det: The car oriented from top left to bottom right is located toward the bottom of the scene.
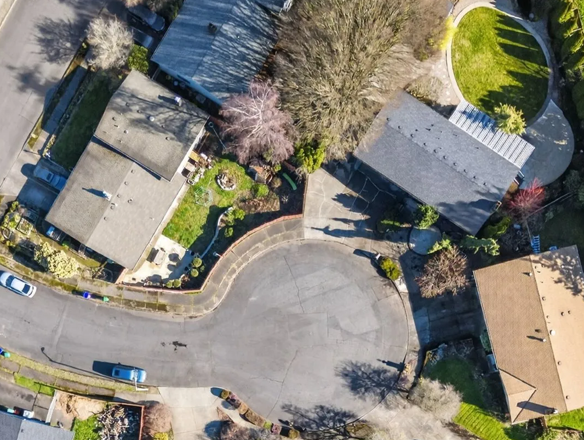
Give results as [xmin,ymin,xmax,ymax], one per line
[0,269,38,300]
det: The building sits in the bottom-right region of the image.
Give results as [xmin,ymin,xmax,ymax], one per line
[471,245,584,423]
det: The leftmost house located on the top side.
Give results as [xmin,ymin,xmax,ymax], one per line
[44,72,210,269]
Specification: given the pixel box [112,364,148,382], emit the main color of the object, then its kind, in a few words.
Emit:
blue car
